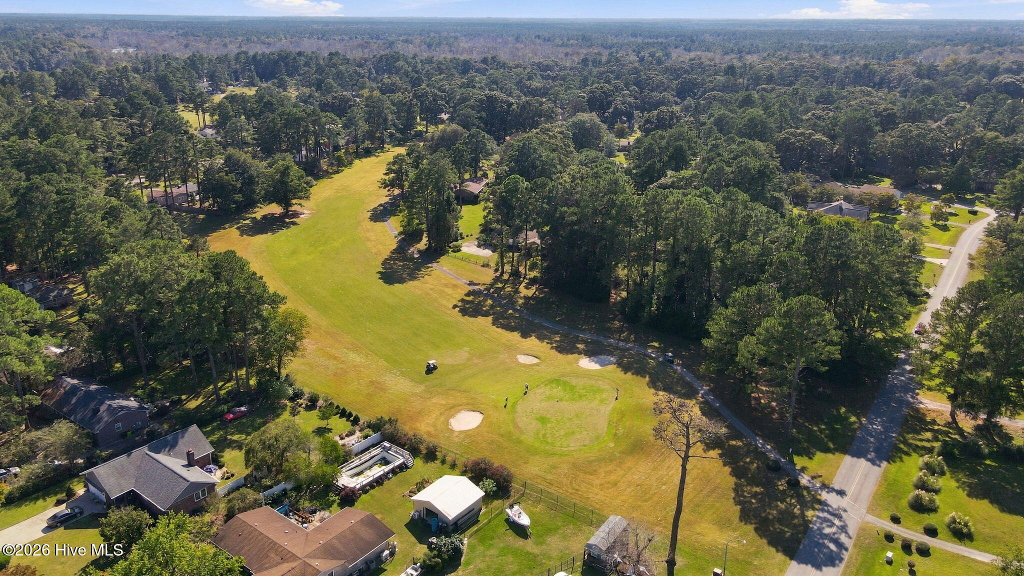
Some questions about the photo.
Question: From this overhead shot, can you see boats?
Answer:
Yes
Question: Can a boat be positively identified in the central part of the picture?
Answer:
No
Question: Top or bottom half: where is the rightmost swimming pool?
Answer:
bottom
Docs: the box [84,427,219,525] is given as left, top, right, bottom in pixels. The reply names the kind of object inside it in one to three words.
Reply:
house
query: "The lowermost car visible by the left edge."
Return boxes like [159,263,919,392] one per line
[44,506,85,528]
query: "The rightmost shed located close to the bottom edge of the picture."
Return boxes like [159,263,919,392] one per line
[586,513,630,564]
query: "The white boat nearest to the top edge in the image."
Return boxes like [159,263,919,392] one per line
[499,500,533,534]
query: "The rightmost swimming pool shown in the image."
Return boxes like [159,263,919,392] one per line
[329,439,412,497]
